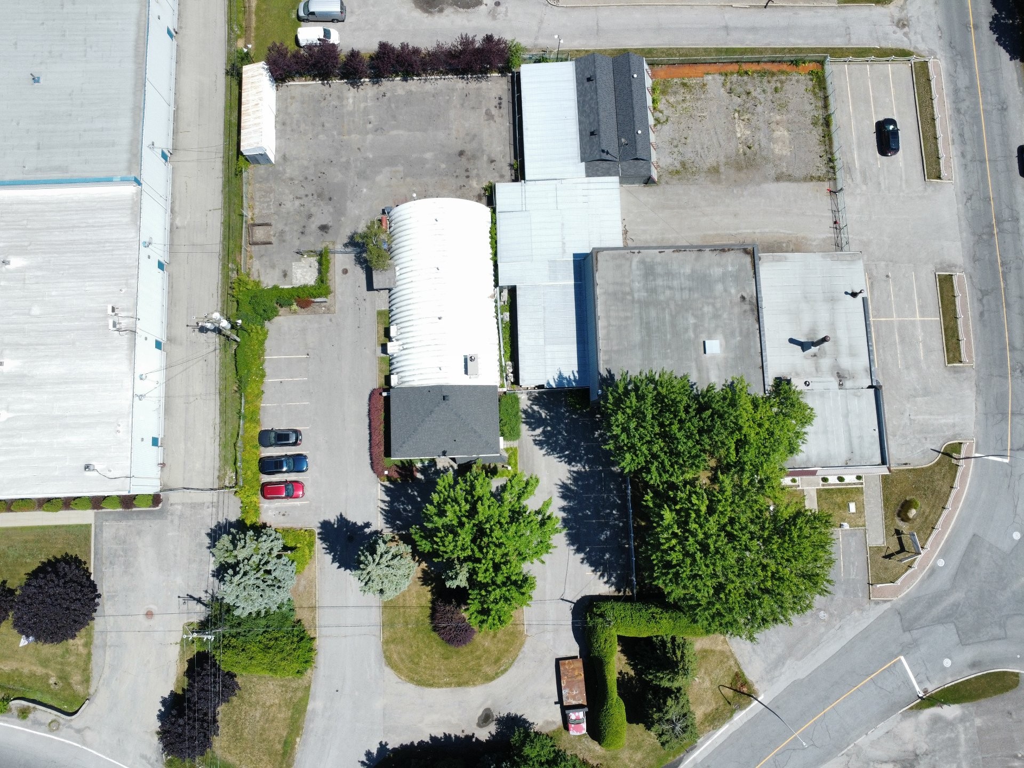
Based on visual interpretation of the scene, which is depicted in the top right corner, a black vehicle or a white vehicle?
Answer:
black vehicle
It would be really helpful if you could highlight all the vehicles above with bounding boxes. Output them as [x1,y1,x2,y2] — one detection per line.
[260,479,307,500]
[259,452,311,474]
[297,0,348,22]
[875,118,901,158]
[558,654,587,735]
[260,427,304,448]
[296,23,341,48]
